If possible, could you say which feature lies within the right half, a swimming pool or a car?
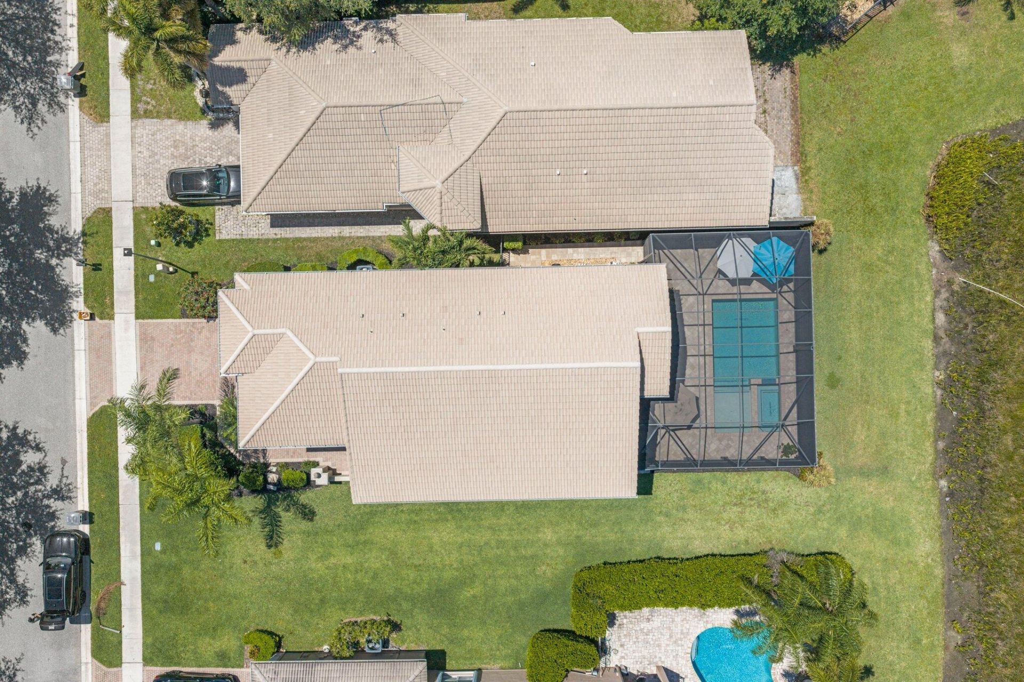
swimming pool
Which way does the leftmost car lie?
vertically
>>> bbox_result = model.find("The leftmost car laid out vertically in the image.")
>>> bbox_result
[39,527,86,635]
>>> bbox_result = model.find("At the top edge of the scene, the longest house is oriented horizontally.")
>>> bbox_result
[206,12,774,235]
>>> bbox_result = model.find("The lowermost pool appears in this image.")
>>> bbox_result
[686,617,783,682]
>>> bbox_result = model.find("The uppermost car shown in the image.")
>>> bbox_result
[167,165,240,206]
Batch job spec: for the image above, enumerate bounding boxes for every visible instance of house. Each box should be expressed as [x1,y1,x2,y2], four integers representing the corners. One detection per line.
[206,12,774,235]
[249,651,669,682]
[217,262,672,506]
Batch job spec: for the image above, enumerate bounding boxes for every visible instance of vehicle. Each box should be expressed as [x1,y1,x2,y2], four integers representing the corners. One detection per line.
[167,165,240,206]
[39,527,86,635]
[151,672,234,682]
